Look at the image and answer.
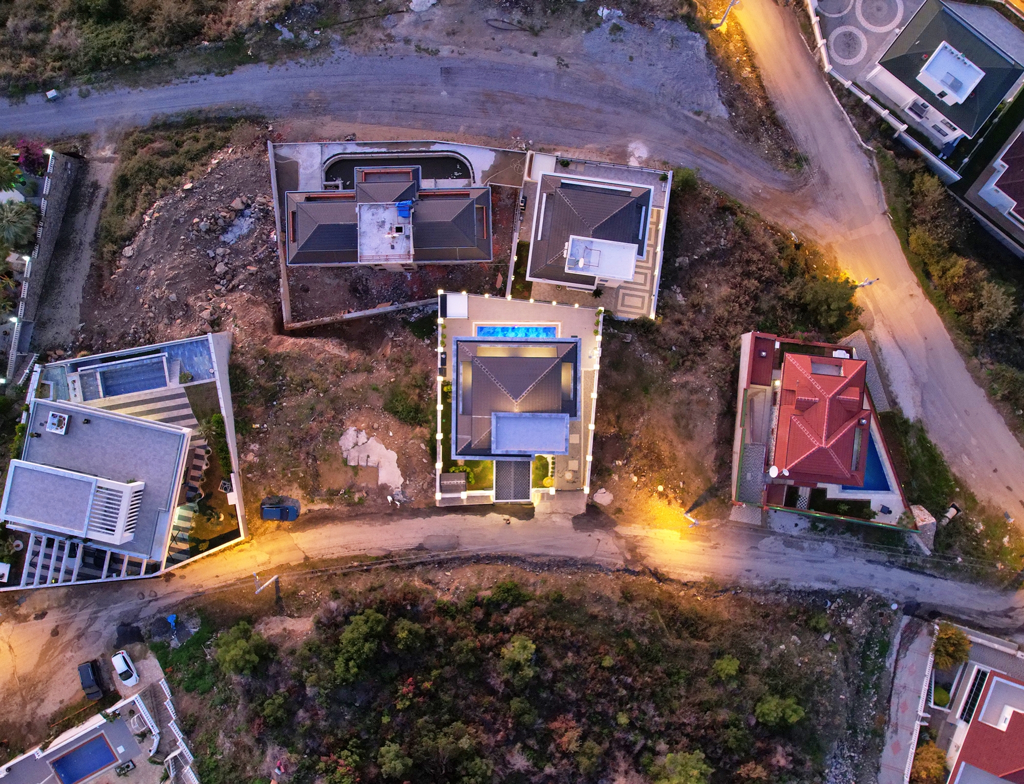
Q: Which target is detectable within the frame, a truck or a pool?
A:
pool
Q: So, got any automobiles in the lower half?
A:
Yes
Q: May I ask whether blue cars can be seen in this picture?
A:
Yes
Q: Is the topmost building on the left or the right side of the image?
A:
right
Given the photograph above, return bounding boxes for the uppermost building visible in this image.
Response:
[858,0,1024,143]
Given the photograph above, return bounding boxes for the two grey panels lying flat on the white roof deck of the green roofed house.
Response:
[946,72,968,91]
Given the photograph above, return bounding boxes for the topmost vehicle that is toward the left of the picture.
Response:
[258,504,298,523]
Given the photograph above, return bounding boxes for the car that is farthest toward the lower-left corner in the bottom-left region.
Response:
[73,663,100,703]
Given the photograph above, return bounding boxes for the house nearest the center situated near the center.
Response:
[451,337,581,461]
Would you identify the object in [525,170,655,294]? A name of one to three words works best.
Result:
house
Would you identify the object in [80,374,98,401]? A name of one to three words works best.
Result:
swimming pool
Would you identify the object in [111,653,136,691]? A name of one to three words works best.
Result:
car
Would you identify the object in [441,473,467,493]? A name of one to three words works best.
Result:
shed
